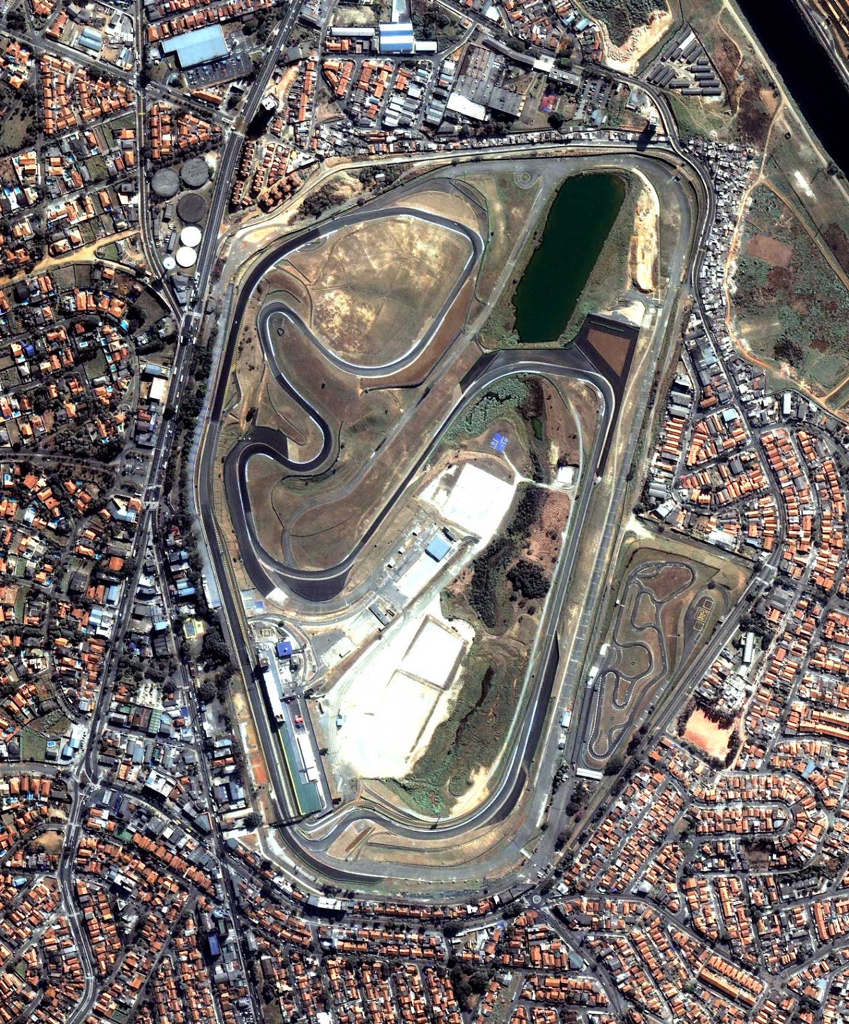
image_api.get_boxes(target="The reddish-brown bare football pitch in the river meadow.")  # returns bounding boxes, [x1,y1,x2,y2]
[748,235,794,267]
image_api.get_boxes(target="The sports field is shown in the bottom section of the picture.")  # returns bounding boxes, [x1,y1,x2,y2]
[686,708,735,758]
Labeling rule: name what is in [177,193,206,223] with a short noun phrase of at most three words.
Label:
storage tank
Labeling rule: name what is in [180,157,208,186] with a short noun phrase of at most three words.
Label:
storage tank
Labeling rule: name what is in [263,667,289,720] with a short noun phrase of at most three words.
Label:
building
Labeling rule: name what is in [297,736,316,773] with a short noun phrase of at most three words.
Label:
shed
